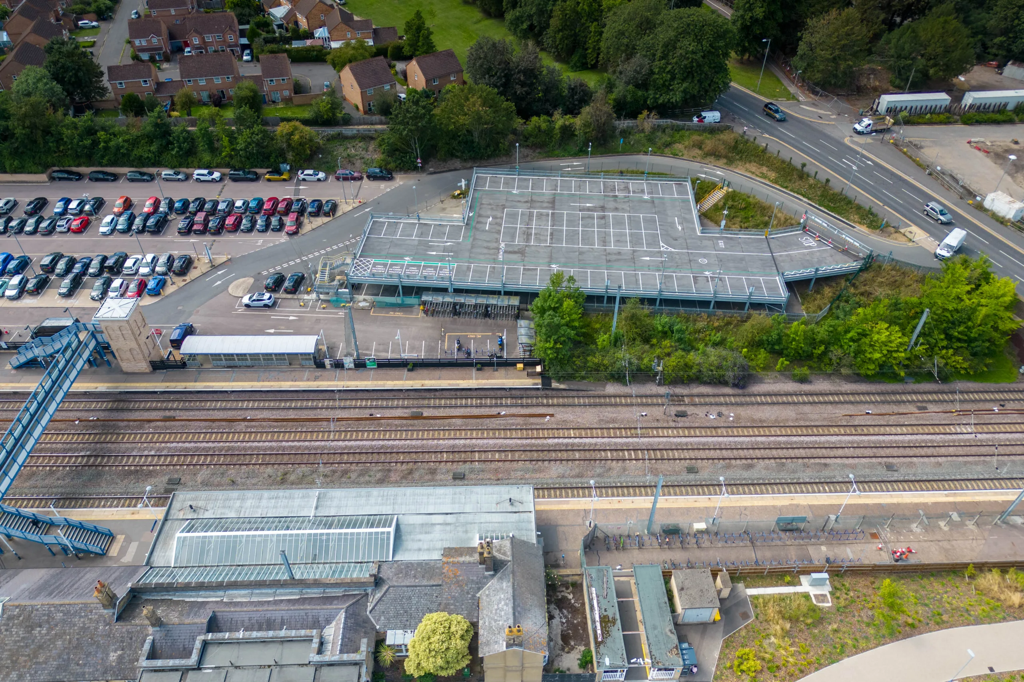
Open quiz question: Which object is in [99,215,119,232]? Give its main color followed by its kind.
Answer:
white car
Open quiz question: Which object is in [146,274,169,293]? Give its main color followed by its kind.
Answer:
blue car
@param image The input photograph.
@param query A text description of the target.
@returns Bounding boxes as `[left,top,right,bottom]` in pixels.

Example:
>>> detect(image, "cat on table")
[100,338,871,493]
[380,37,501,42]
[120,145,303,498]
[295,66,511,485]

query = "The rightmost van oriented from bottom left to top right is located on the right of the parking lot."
[940,222,975,256]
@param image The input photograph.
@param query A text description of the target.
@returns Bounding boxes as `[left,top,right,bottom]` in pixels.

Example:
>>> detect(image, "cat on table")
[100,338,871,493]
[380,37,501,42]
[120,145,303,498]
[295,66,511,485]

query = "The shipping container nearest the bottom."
[985,187,1024,220]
